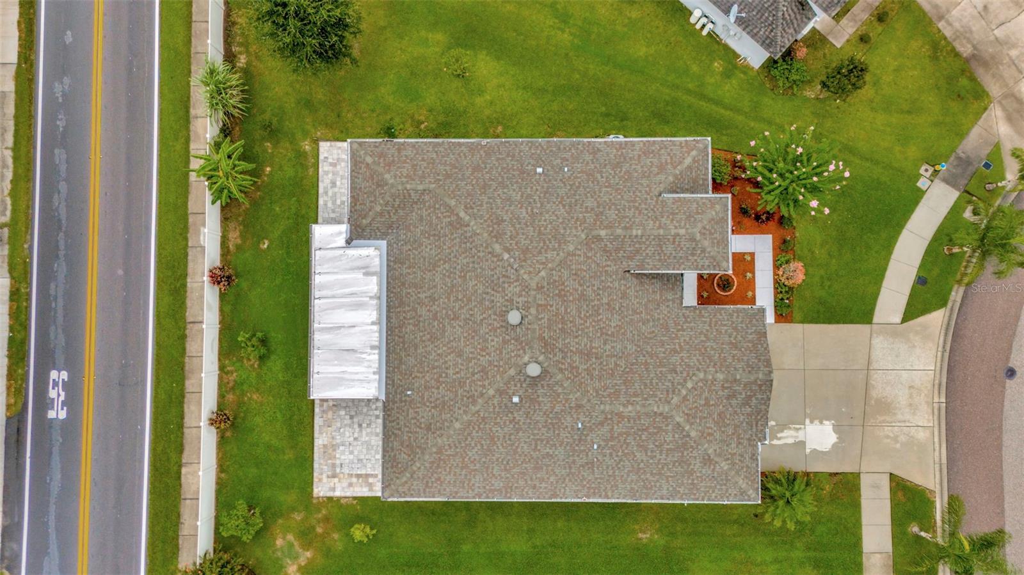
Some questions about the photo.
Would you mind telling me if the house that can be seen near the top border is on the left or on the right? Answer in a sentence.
You can find the house that can be seen near the top border on the right side of the picture.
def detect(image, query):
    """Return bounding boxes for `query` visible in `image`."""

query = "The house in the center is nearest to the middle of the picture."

[310,136,776,504]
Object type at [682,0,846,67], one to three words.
house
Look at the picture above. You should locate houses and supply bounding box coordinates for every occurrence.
[682,0,846,67]
[310,136,776,504]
